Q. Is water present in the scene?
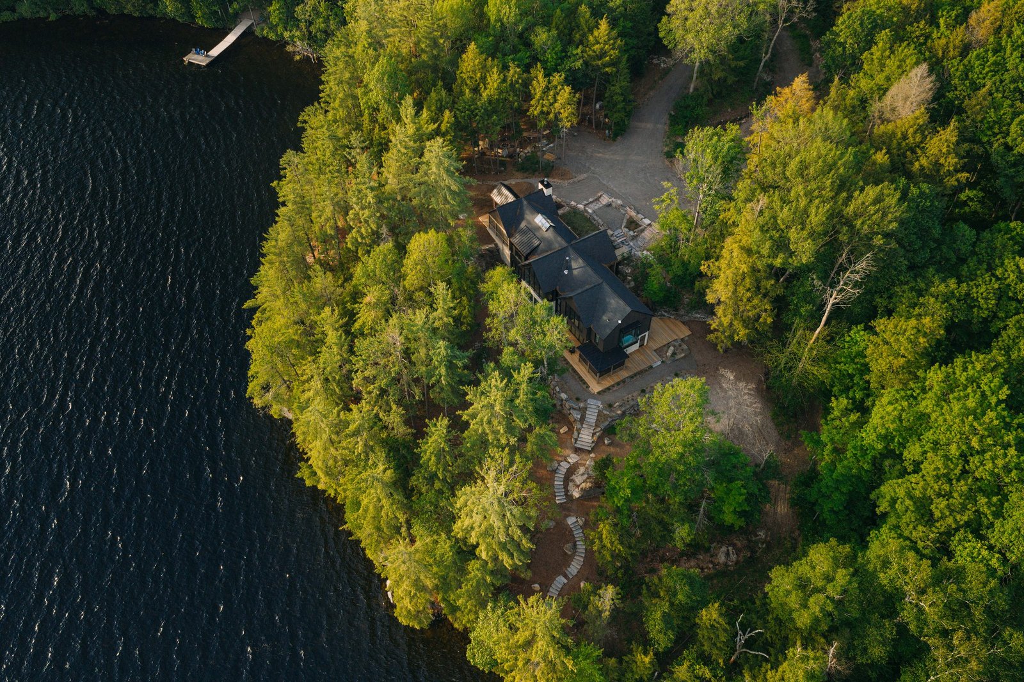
Yes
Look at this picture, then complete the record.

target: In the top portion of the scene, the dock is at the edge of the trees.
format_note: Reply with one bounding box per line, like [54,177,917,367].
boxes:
[184,19,253,67]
